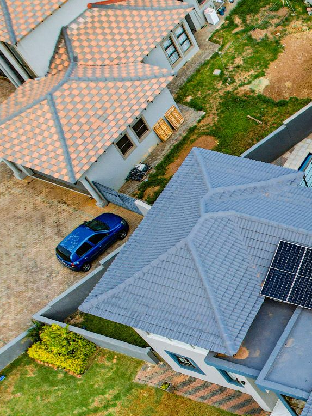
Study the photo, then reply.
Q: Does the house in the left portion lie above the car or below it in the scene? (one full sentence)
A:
The house in the left portion is found above the car in the photo.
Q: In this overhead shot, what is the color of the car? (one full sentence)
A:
The car looks blue in the image.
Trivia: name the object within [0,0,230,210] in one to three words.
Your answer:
house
